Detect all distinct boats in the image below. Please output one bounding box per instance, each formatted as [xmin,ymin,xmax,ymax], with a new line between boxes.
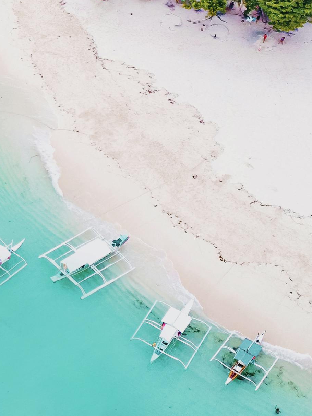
[38,227,135,298]
[130,298,212,369]
[210,331,278,390]
[0,239,28,285]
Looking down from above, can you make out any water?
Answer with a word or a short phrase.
Yes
